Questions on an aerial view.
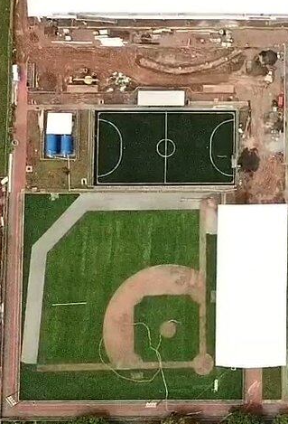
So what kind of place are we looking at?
sports ground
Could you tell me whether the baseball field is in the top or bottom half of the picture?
bottom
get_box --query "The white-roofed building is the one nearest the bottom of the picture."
[46,113,75,134]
